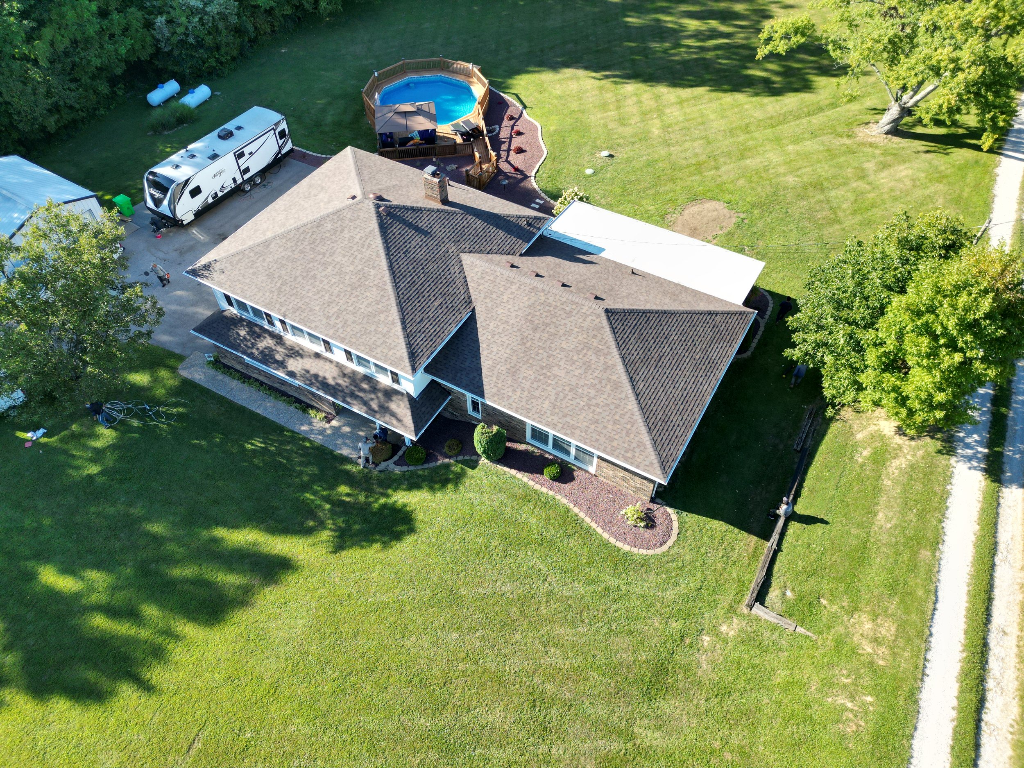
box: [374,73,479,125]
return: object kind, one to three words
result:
swimming pool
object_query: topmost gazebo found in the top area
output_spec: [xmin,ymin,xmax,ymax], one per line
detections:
[373,99,438,157]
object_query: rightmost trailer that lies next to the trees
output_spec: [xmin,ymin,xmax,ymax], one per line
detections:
[141,108,292,243]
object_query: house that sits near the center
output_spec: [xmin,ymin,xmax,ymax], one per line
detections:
[182,138,765,511]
